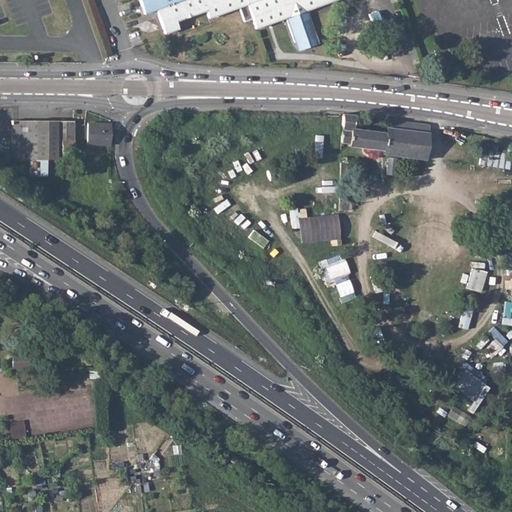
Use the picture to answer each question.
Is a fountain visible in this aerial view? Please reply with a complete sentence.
No, the frame has no fountain in it.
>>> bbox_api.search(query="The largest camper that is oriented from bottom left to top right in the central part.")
[212,199,231,214]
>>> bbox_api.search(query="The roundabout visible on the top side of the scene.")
[110,67,174,114]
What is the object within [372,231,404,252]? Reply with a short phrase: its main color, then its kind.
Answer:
white vehicle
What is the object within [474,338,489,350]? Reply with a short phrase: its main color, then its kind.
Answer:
white vehicle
